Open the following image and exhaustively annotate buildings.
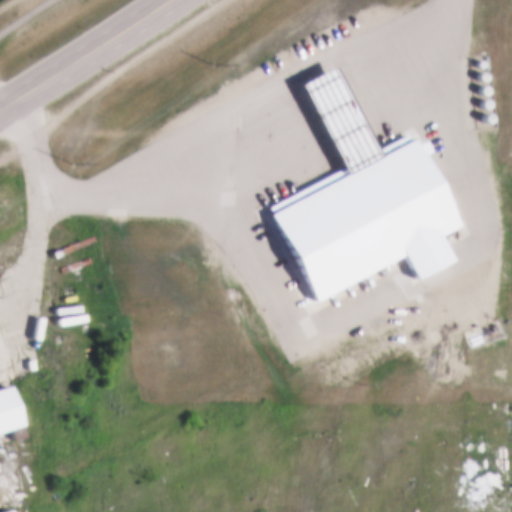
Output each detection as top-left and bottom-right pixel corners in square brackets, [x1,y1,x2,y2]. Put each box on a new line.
[0,386,29,436]
[266,68,464,300]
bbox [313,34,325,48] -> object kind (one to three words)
vehicle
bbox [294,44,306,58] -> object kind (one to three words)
vehicle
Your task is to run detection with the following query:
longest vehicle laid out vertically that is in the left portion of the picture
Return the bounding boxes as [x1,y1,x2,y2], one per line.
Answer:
[34,316,49,348]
